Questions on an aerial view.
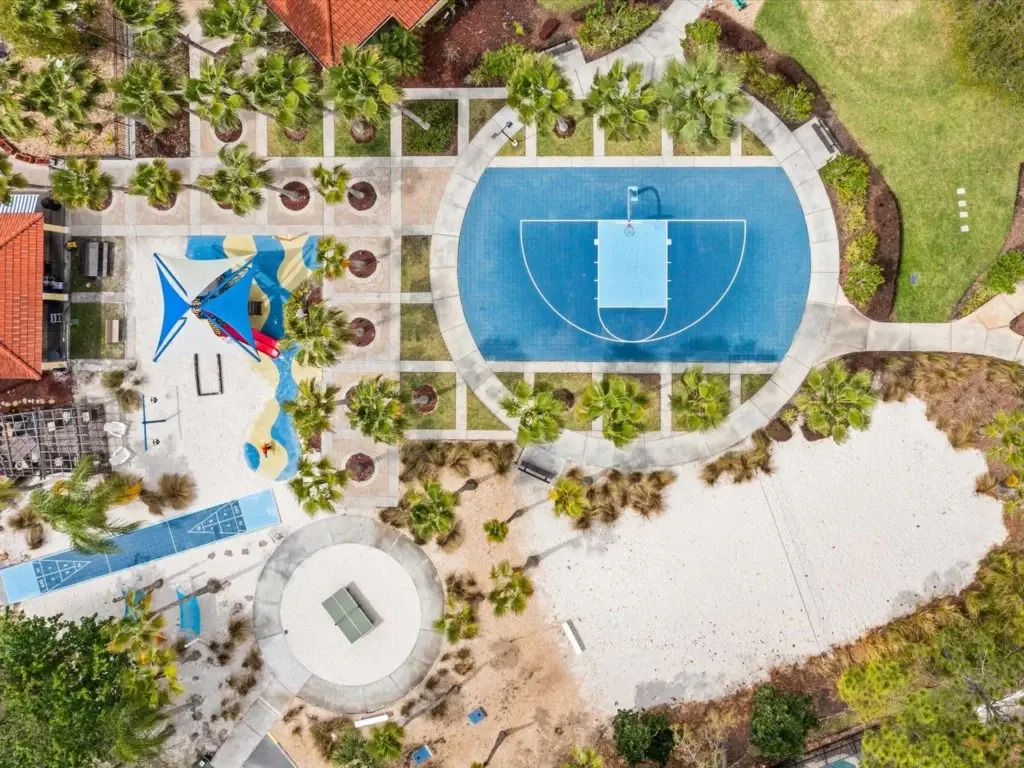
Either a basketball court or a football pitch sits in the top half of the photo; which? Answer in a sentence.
The one visible in the top half of the photo is a basketball court.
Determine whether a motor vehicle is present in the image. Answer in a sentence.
No, no motor vehicle is visible in the view.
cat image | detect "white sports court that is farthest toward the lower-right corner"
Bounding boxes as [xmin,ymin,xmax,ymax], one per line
[528,397,1005,719]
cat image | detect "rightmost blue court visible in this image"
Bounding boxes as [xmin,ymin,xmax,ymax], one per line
[457,167,810,362]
